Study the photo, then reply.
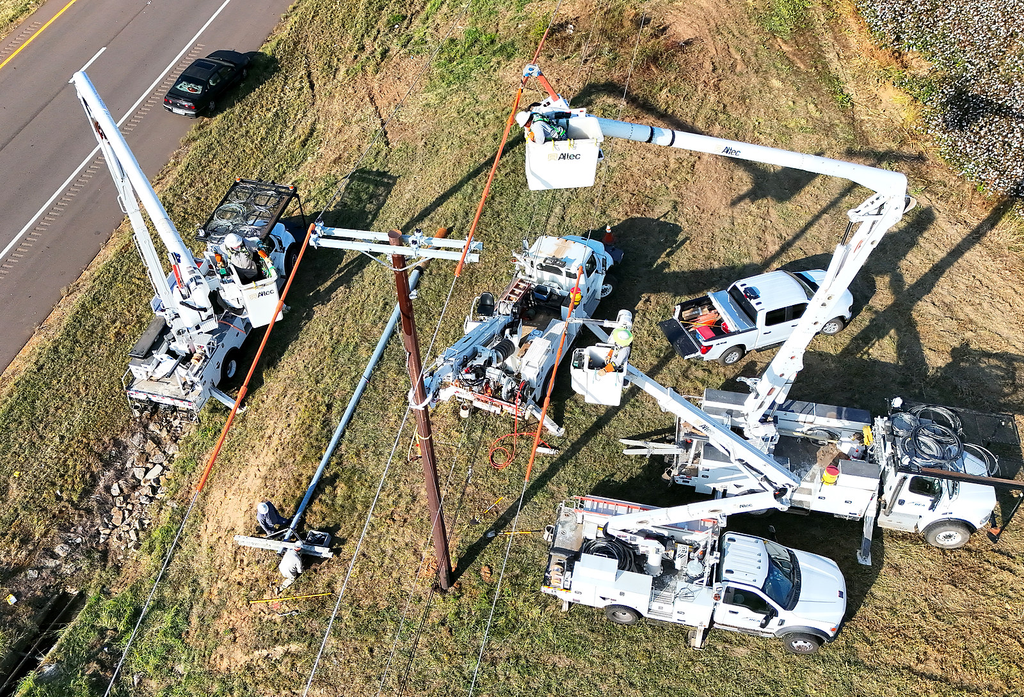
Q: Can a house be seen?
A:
No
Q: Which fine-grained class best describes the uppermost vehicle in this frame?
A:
automobile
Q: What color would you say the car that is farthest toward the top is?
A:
black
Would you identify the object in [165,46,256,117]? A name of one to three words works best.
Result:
car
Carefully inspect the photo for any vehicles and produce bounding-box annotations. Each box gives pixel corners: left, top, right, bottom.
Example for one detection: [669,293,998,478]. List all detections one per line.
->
[404,235,613,441]
[537,304,853,653]
[69,65,309,435]
[165,46,256,117]
[653,263,864,367]
[523,64,1024,568]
